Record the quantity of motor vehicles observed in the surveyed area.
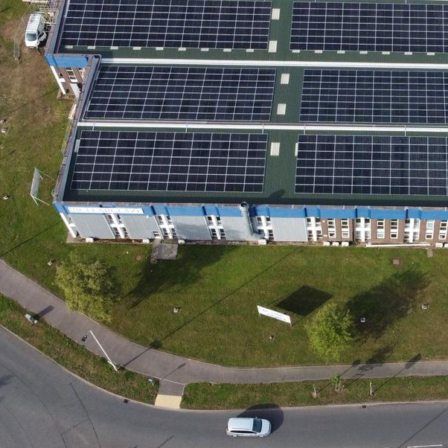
2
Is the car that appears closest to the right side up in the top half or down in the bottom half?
bottom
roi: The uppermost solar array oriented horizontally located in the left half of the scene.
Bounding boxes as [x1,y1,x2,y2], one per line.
[63,0,271,50]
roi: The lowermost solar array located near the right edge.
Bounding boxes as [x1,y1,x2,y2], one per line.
[293,135,448,197]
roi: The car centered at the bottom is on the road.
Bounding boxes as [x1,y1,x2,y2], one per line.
[226,417,272,439]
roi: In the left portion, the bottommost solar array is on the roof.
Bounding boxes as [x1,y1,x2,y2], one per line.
[74,130,268,194]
